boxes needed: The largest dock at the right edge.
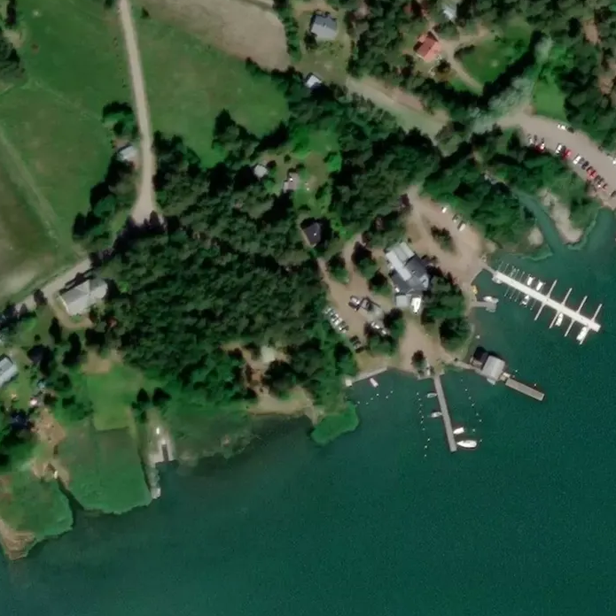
[493,262,601,345]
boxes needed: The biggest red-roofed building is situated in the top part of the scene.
[412,31,443,61]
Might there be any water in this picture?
Yes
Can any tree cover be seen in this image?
Yes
